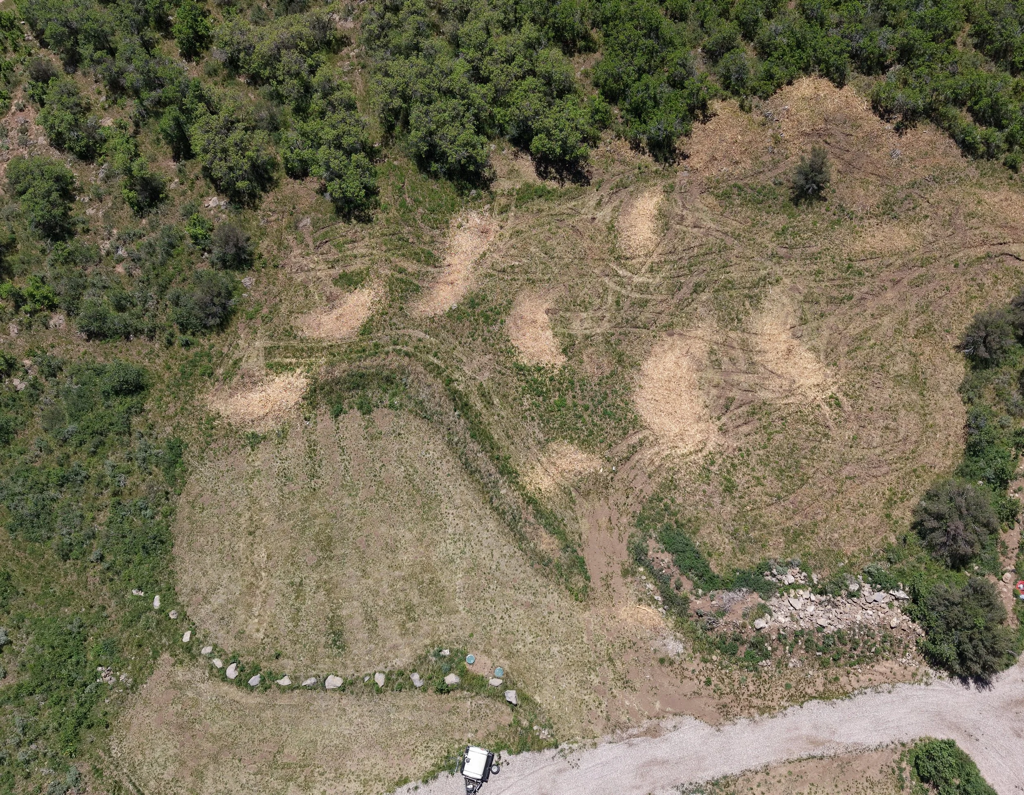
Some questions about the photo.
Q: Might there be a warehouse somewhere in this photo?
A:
No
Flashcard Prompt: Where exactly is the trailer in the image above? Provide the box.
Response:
[458,738,496,795]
